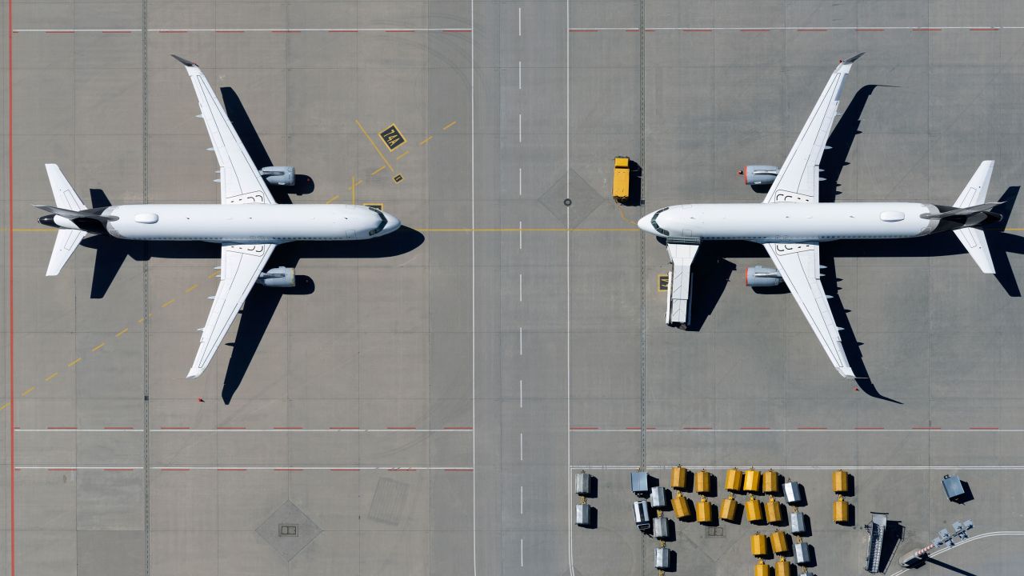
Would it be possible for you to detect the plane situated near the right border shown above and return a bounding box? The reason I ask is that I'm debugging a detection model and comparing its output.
[638,54,1008,380]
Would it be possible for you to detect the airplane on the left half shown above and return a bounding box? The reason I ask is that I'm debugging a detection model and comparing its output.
[31,54,401,380]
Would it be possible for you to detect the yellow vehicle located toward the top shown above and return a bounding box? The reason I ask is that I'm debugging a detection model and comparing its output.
[613,153,633,201]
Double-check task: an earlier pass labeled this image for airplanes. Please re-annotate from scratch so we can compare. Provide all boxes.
[638,54,1008,380]
[31,54,401,380]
